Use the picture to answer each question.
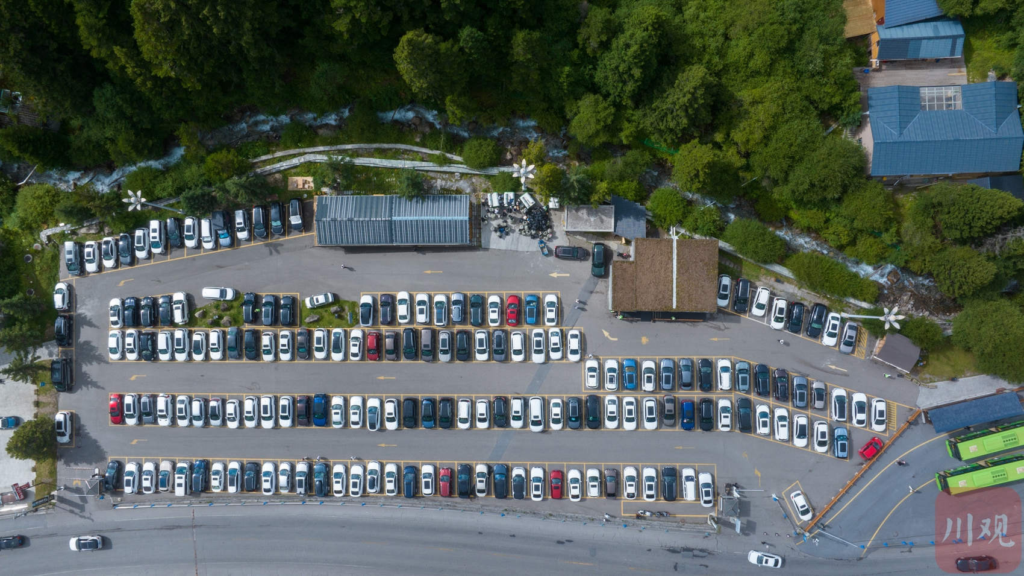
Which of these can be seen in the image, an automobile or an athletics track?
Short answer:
automobile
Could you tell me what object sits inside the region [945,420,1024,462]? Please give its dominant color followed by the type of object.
green bus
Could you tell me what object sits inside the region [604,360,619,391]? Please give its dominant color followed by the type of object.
white car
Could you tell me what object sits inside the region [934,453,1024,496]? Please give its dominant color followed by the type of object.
green bus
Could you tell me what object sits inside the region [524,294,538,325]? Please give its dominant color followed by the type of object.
blue car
